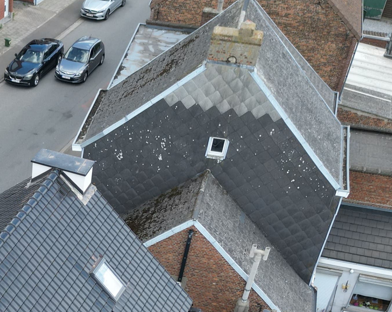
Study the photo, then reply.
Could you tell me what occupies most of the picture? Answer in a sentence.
The largest share of the image is taken up by buildings.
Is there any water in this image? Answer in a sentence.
No, the picture contains no water.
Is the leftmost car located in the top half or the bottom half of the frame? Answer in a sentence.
The leftmost car is in the top half of the image.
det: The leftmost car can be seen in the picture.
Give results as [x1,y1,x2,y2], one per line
[3,40,64,87]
